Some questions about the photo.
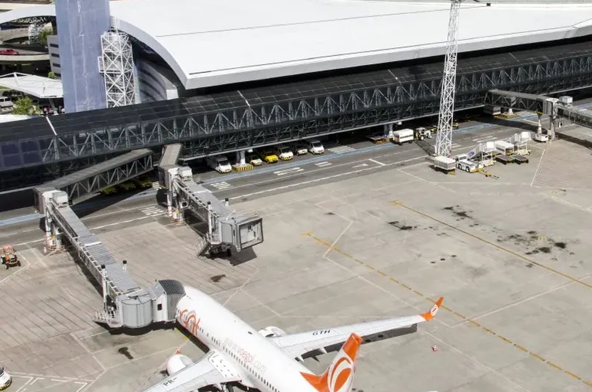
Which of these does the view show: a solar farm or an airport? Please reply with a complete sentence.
The area seen from above is an airport.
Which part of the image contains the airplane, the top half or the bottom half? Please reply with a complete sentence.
The airplane sits in the bottom half of the picture.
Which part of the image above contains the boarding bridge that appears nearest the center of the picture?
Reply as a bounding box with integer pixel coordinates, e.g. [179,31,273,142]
[155,140,270,261]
